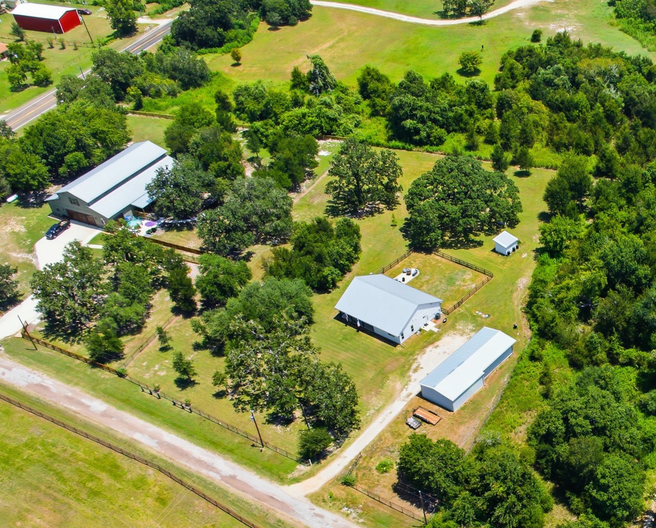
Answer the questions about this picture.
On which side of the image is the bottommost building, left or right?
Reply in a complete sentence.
You can find the bottommost building on the right side of the picture.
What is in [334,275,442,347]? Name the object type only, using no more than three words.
house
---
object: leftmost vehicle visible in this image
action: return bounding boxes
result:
[44,220,70,236]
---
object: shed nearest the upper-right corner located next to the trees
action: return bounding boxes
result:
[493,233,518,255]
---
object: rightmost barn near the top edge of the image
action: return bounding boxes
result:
[14,6,80,33]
